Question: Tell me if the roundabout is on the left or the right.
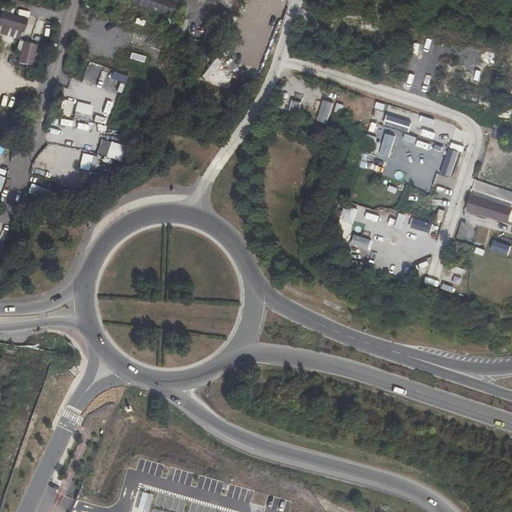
left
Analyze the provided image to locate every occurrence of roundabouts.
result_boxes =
[75,202,265,392]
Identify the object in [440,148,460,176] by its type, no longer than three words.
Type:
house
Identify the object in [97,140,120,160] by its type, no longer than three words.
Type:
house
